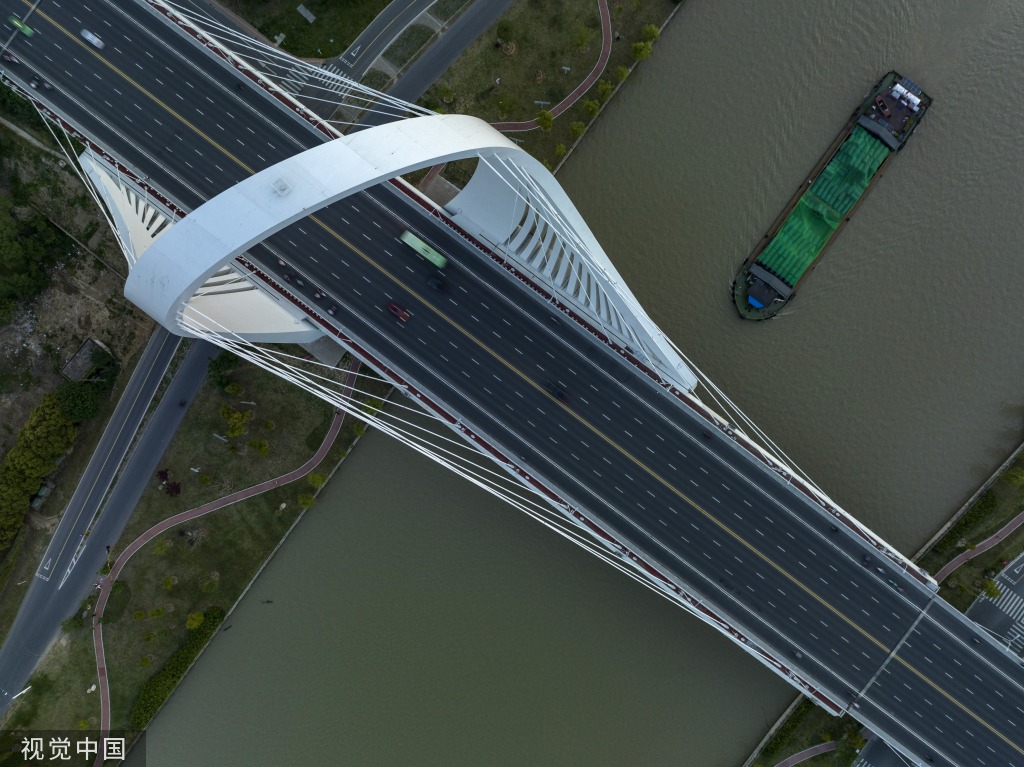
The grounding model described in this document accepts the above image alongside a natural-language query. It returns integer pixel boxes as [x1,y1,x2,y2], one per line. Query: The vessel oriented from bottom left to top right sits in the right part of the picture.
[730,71,929,323]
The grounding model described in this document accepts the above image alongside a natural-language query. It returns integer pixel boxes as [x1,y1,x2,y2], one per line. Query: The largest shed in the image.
[59,337,119,388]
